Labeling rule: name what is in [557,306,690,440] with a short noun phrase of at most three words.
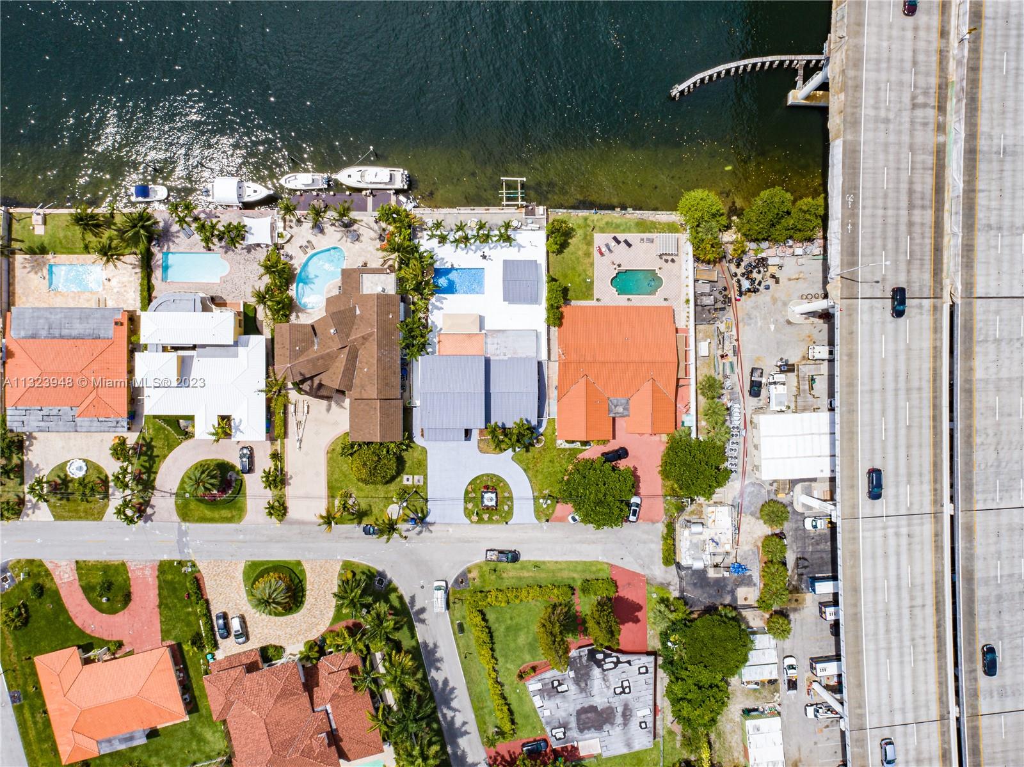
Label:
house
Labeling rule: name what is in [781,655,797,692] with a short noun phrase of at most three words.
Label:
vehicle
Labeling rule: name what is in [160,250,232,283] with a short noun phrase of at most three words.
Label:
swimming pool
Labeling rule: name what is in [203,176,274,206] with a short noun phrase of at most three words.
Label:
boat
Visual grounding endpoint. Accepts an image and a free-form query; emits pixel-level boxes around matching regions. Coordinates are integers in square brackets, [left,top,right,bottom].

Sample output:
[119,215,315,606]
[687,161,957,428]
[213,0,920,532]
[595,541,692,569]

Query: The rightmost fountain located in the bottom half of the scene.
[481,490,496,506]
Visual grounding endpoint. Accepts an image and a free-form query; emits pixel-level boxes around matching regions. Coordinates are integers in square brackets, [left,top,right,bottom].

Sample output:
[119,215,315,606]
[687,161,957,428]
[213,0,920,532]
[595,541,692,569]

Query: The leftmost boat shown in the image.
[125,184,168,201]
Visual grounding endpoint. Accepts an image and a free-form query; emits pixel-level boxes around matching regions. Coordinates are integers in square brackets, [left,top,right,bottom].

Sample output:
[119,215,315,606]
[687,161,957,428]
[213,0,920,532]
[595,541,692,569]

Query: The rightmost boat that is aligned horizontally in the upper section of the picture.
[334,168,413,189]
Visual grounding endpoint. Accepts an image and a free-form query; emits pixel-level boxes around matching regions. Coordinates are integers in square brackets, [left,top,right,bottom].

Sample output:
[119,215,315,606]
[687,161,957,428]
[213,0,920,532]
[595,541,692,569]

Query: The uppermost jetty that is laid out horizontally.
[667,54,826,96]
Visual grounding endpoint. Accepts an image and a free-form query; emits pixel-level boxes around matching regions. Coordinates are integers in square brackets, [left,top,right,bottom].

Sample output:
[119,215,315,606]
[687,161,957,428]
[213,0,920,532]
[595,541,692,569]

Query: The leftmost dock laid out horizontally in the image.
[289,192,402,211]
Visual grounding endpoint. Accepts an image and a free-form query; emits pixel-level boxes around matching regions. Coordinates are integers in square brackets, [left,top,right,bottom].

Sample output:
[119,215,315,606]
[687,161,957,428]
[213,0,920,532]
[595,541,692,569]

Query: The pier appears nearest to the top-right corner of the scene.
[783,59,832,110]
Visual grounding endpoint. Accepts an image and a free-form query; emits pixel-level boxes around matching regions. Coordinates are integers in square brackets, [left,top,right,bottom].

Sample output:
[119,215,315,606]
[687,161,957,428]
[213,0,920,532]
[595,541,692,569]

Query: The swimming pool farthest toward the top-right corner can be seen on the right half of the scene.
[608,267,666,297]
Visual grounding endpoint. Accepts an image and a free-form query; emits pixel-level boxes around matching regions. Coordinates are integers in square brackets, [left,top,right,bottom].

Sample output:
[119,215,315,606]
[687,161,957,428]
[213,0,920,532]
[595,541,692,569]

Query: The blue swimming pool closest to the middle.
[433,266,486,296]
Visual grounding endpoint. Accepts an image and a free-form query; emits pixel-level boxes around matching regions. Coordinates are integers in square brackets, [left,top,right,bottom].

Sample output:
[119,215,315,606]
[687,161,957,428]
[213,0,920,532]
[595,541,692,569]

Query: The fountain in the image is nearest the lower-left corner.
[69,459,88,477]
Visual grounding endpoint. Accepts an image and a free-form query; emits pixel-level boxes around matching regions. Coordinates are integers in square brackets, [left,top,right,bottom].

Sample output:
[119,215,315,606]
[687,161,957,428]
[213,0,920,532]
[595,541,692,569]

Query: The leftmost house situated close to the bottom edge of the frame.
[34,643,190,766]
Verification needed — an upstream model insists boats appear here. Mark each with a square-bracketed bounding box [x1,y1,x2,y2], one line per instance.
[203,176,274,206]
[401,193,416,209]
[279,174,334,190]
[334,168,413,189]
[125,184,168,201]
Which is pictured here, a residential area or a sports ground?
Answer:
residential area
